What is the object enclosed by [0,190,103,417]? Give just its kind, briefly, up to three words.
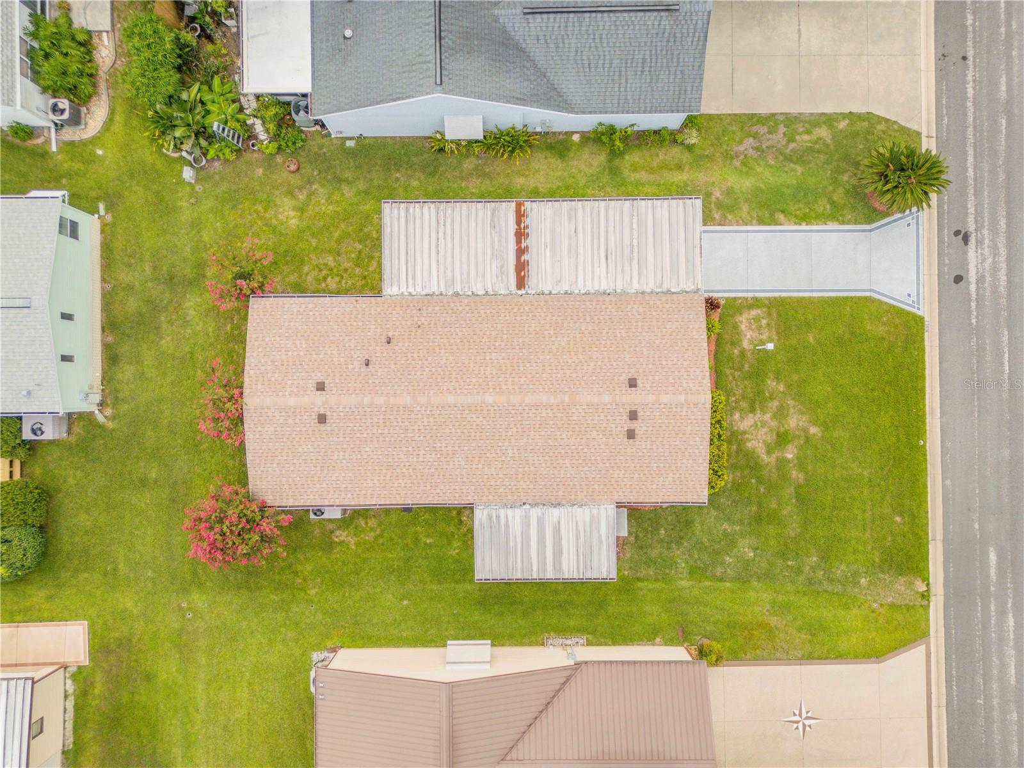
house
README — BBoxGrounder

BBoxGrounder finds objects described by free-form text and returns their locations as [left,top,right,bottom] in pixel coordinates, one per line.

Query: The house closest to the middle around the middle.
[243,195,712,583]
